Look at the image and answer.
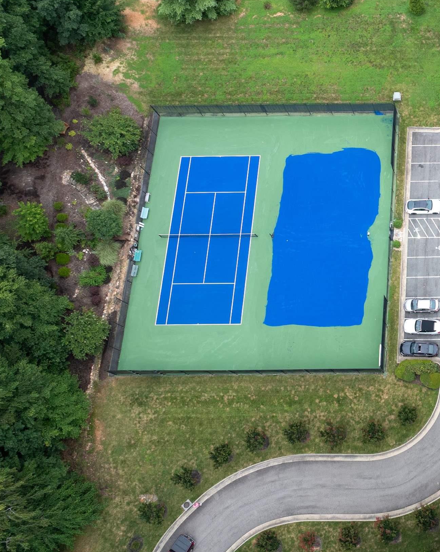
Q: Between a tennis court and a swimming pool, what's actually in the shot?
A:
tennis court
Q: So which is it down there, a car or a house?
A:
car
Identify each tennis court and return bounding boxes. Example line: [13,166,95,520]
[263,147,380,327]
[154,156,260,325]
